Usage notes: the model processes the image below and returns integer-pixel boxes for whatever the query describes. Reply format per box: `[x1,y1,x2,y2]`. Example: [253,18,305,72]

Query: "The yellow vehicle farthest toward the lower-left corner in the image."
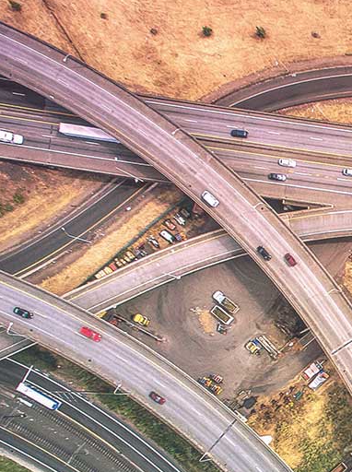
[128,312,150,326]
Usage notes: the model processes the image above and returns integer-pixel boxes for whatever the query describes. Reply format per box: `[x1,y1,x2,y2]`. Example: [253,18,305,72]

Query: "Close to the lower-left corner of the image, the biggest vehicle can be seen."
[12,381,59,409]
